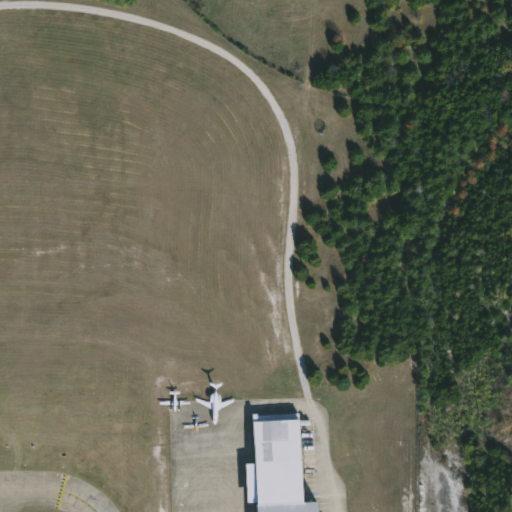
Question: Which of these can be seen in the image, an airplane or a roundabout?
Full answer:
It is an airplane that can be seen here.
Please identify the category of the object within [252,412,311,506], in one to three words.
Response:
hangar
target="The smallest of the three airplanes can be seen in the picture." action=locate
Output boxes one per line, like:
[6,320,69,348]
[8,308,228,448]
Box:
[184,416,208,432]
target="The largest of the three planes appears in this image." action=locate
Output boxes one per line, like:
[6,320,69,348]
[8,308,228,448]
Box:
[196,384,236,425]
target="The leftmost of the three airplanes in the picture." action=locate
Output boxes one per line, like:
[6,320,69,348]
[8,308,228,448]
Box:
[160,392,190,412]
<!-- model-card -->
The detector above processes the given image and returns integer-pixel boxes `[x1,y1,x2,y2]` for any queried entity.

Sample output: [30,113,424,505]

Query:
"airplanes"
[196,384,236,425]
[160,392,190,412]
[184,416,208,432]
